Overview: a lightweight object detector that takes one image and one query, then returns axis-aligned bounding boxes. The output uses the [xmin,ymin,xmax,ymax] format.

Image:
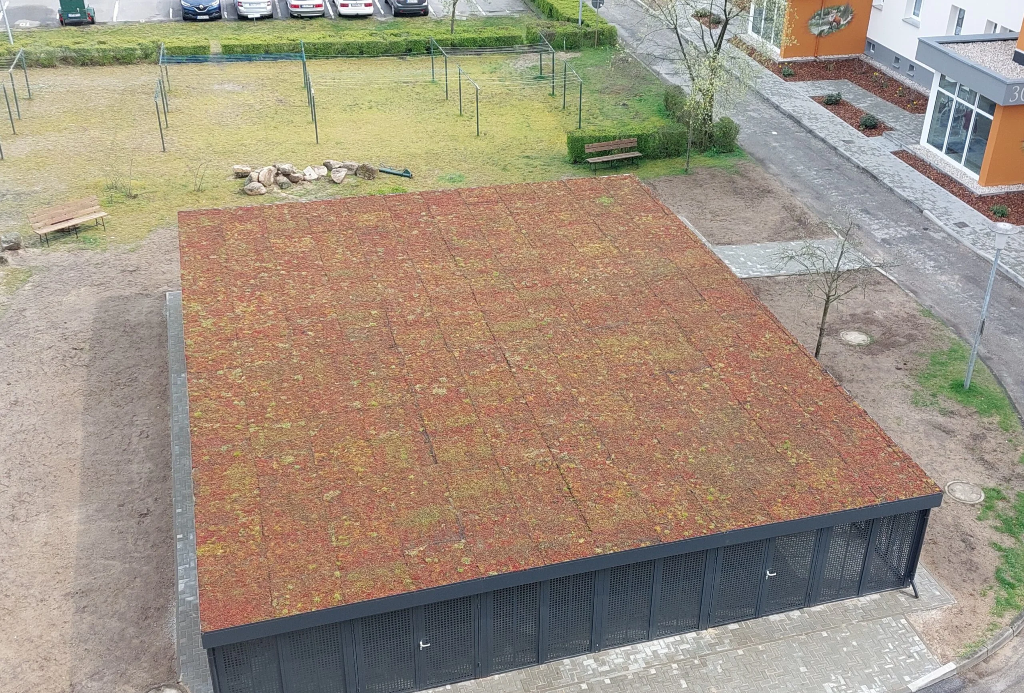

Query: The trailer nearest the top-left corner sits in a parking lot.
[58,0,97,27]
